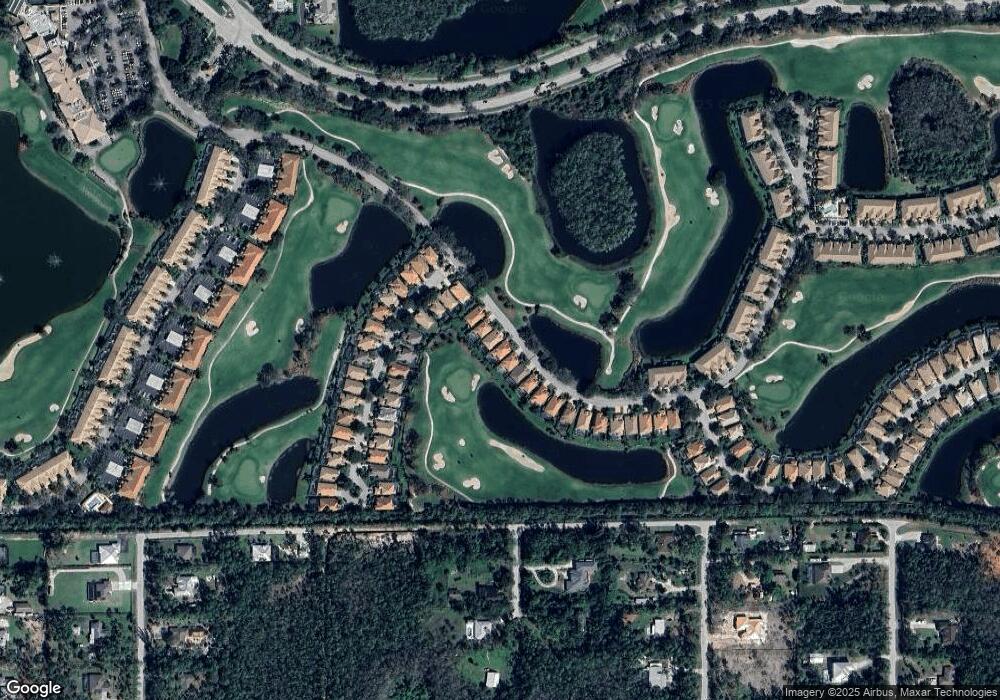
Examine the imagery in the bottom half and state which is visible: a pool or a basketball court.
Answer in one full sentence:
What appears in the bottom half is a pool.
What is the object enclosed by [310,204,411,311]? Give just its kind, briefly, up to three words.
pond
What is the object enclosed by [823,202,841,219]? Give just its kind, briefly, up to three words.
swimming pool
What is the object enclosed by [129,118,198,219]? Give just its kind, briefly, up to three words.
pond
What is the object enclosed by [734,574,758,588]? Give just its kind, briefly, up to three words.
house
